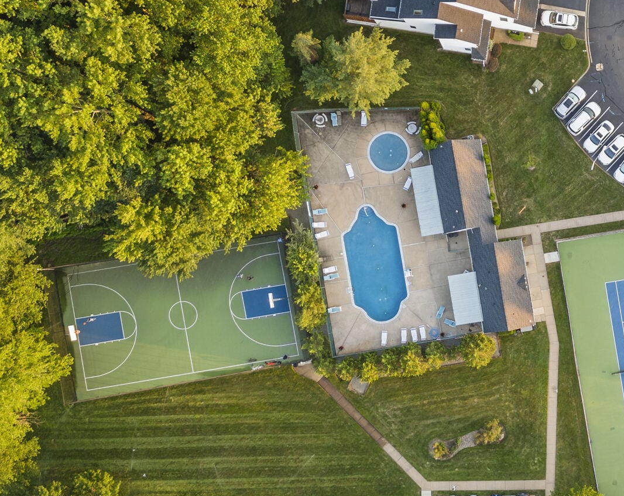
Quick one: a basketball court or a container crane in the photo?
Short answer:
basketball court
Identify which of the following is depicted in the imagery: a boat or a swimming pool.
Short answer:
swimming pool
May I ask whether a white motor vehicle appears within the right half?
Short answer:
Yes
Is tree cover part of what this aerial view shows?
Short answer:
Yes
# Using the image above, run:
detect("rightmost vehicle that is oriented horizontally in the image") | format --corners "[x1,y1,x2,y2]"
[541,11,578,29]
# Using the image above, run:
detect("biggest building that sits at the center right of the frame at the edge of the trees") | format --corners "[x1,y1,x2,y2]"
[428,139,536,332]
